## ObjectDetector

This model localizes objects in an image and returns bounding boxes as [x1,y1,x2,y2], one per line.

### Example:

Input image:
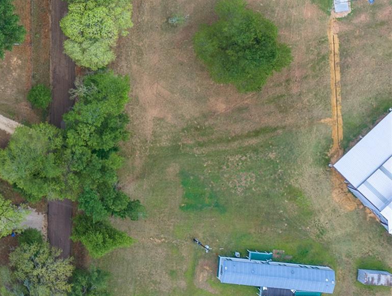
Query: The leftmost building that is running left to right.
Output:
[215,255,336,293]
